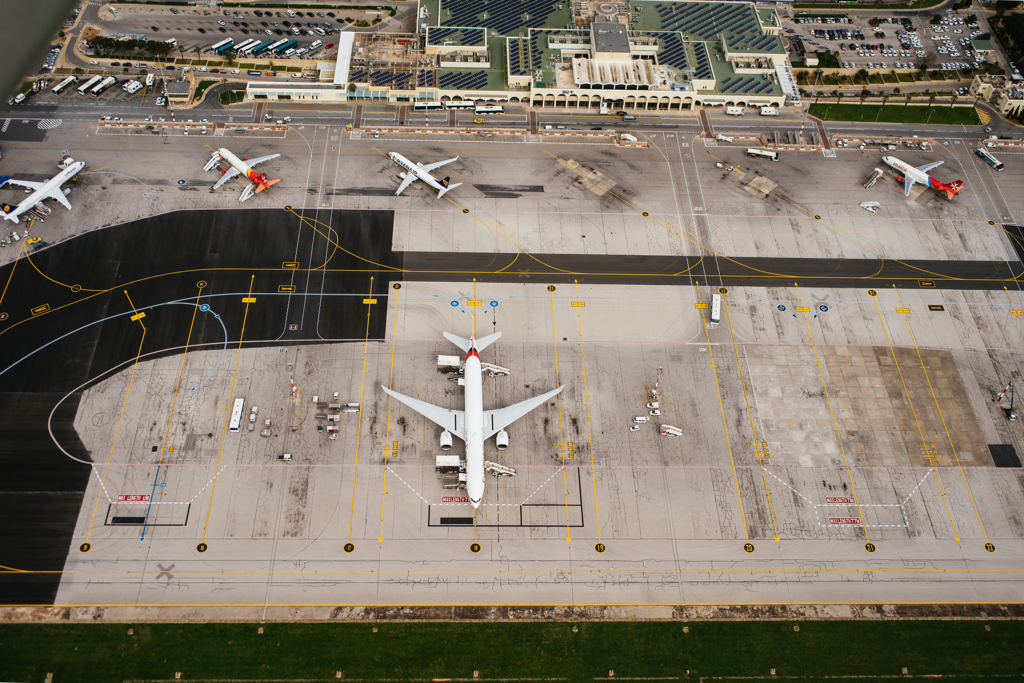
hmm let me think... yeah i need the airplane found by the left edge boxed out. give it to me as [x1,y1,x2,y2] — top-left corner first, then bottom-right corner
[0,163,86,225]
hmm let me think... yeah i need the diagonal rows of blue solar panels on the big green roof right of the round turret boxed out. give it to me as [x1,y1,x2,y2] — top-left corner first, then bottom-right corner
[658,2,758,38]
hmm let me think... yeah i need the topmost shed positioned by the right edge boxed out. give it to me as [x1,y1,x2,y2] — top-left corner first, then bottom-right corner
[971,38,996,54]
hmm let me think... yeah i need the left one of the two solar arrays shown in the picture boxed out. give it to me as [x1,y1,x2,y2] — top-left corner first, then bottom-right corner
[441,0,559,33]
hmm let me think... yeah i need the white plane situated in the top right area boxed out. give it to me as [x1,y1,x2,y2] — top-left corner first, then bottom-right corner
[882,158,965,201]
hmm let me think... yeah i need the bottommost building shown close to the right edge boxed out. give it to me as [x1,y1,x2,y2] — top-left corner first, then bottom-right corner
[969,74,1024,115]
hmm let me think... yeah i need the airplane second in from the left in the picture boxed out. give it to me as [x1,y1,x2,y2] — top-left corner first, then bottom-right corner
[215,149,282,195]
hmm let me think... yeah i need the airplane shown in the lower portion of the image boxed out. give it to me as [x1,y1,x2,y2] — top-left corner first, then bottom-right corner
[382,319,563,509]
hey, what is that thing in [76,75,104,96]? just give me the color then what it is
white bus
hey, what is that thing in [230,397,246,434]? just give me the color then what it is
white vehicle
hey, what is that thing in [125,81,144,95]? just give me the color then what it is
white vehicle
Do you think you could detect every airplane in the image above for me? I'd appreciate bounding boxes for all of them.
[389,152,459,198]
[215,149,282,195]
[882,158,965,201]
[382,319,563,509]
[0,163,86,225]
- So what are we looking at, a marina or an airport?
airport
